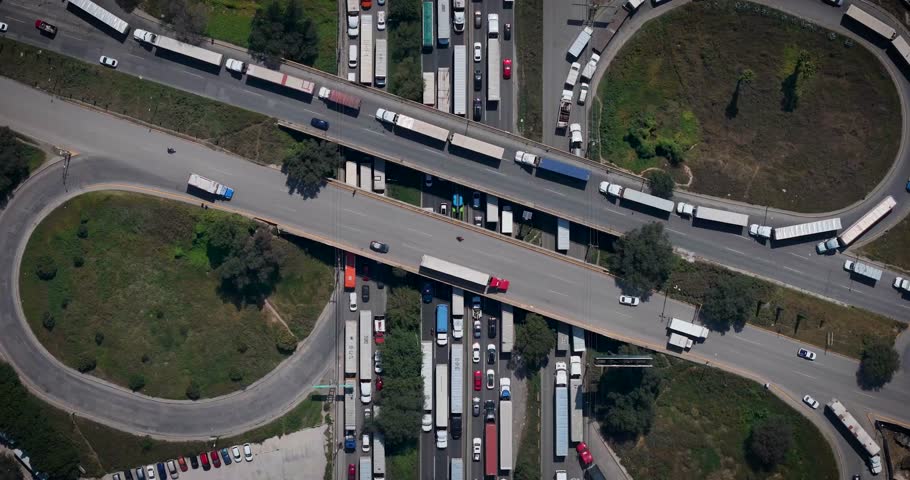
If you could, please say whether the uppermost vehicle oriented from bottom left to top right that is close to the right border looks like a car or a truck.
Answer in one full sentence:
I'd identify the uppermost vehicle oriented from bottom left to top right that is close to the right border as a truck.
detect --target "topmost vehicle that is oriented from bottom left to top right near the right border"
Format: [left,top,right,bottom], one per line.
[815,196,897,254]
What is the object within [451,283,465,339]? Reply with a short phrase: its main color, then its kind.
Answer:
white vehicle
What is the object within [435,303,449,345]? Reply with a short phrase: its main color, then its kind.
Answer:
blue vehicle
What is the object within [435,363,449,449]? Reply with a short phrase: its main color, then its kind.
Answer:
white vehicle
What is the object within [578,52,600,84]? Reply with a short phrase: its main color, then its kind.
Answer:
white truck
